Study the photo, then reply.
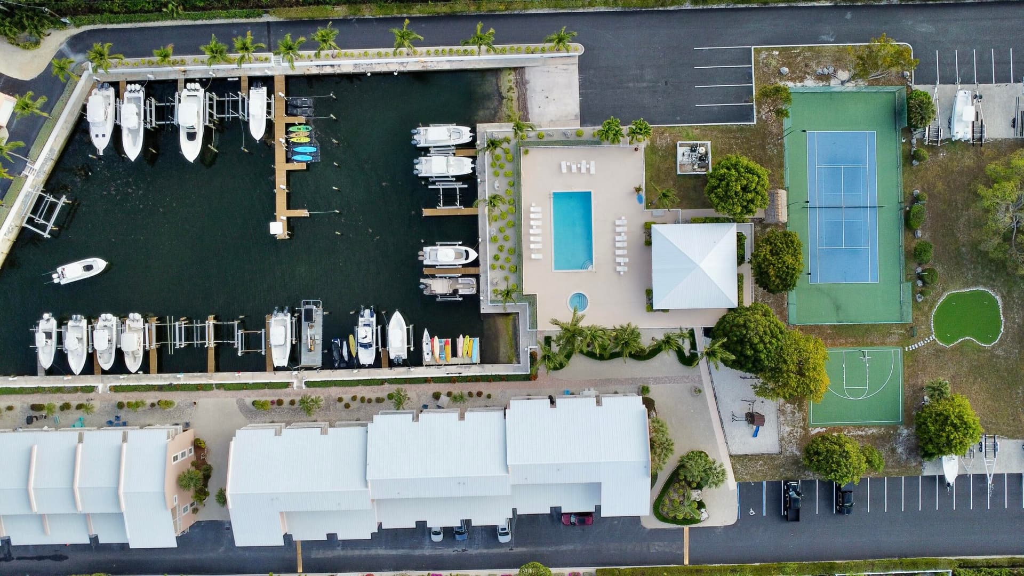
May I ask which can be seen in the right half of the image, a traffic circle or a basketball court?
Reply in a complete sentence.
Looking in the right half of the image, you will find a basketball court.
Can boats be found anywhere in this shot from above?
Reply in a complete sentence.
Yes, the image includes a boat.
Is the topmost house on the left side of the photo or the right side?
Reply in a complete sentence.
The topmost house sits on the left side.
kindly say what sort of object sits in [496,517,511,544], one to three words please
car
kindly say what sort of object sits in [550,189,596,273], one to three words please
swimming pool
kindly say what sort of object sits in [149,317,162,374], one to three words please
pier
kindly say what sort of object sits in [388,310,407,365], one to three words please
boat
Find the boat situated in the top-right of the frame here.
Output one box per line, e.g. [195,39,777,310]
[955,91,981,144]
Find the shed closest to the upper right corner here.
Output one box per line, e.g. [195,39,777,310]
[762,189,787,223]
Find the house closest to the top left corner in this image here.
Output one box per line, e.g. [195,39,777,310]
[0,90,28,131]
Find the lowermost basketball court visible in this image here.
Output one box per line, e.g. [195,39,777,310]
[810,347,904,426]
